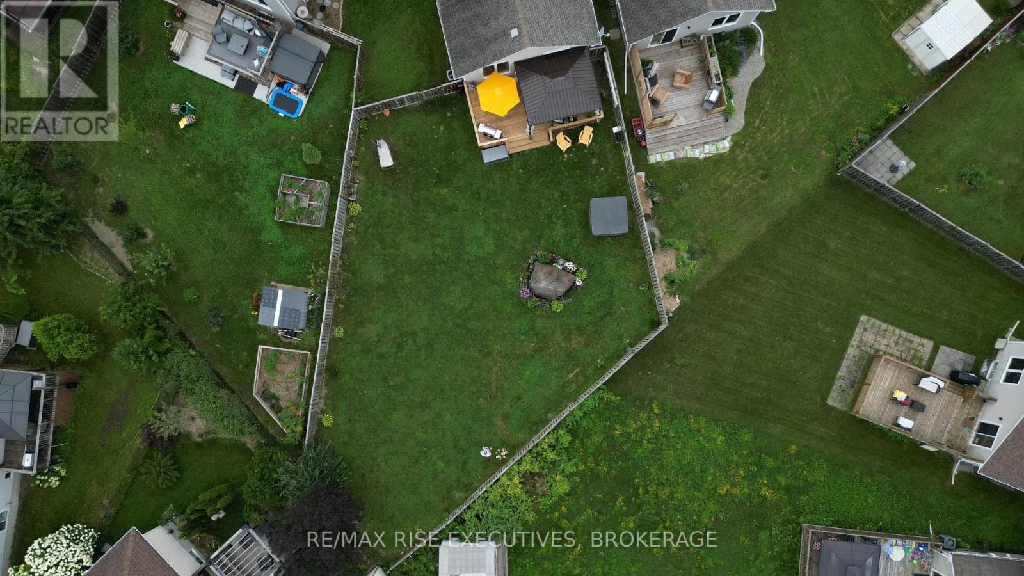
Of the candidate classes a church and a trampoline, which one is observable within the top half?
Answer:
trampoline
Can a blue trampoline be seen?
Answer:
Yes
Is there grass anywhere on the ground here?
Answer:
Yes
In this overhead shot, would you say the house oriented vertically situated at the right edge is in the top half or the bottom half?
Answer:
bottom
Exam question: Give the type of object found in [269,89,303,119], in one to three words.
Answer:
trampoline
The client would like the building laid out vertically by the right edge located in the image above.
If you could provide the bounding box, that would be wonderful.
[959,348,1024,494]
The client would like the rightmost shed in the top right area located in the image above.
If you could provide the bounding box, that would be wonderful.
[904,0,1000,70]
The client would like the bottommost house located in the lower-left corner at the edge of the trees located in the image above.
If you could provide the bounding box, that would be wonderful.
[83,525,204,576]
